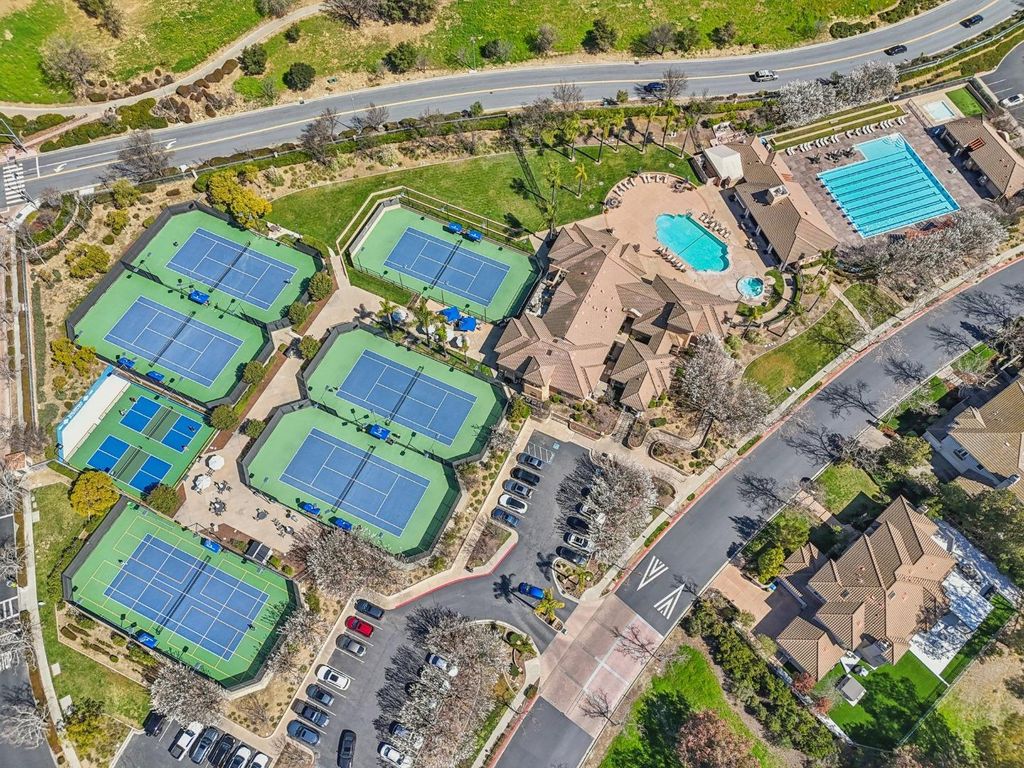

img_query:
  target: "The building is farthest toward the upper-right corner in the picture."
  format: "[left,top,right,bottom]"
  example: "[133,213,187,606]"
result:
[941,105,1024,198]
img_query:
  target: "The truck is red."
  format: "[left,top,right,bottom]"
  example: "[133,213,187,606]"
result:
[341,614,377,639]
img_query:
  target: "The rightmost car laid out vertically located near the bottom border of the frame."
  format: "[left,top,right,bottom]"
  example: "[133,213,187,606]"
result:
[339,731,356,767]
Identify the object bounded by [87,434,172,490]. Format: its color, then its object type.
blue sports court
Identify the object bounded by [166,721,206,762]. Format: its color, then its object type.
white truck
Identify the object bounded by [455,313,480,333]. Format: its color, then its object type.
blue umbrella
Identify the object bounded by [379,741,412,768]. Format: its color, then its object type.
white car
